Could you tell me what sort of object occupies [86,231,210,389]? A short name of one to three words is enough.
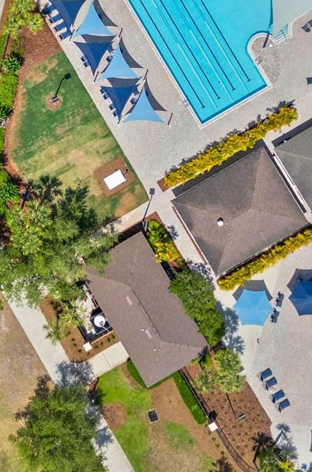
building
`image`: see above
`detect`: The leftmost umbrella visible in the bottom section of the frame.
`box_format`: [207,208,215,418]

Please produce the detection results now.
[232,289,272,325]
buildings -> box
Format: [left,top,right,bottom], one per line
[86,231,210,389]
[274,127,312,213]
[171,147,310,278]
